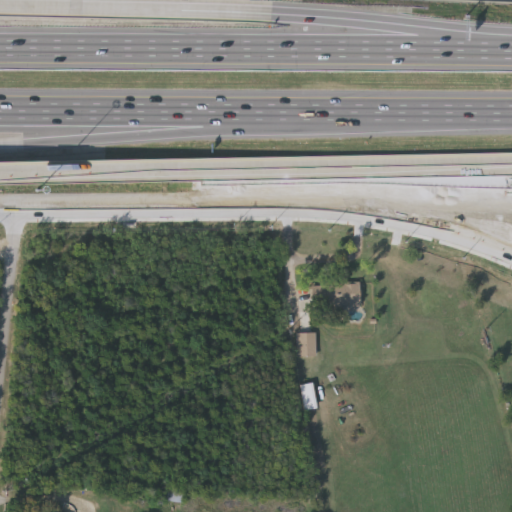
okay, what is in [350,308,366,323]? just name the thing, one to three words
swimming pool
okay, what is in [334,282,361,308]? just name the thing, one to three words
house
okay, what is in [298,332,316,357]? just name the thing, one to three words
barn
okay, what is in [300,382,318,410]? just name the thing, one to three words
building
